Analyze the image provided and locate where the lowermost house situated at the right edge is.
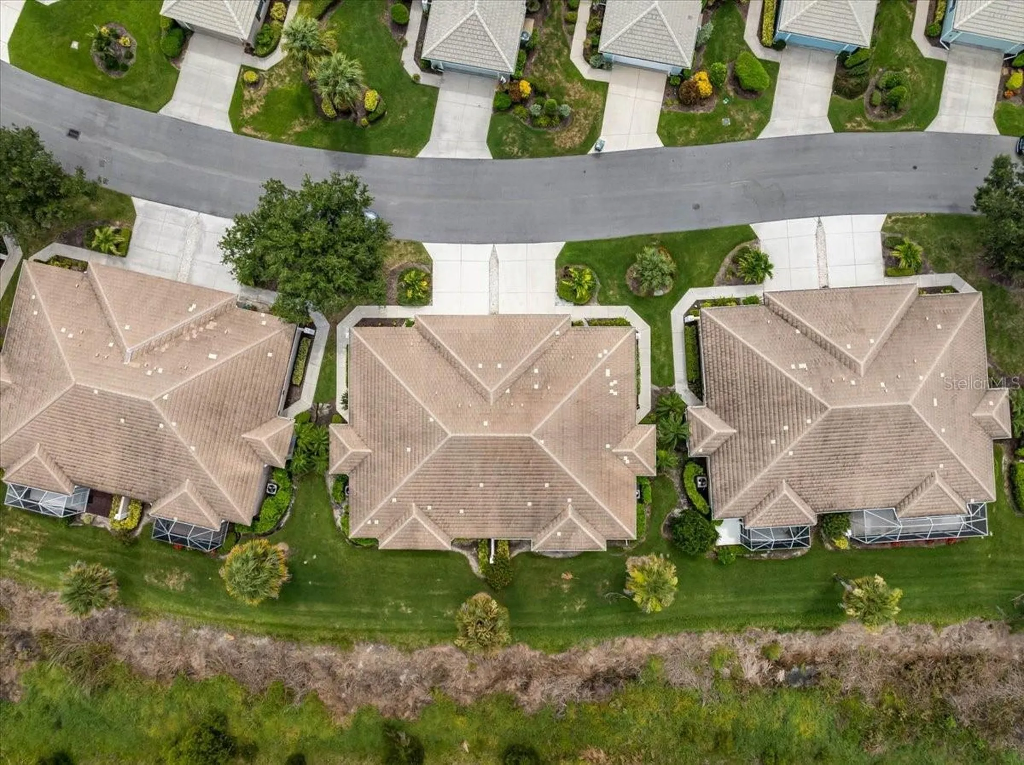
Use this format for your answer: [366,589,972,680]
[683,281,1015,530]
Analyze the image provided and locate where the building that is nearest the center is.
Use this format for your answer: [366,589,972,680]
[328,313,657,551]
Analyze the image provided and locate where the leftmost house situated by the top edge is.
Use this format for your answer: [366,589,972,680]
[157,0,269,48]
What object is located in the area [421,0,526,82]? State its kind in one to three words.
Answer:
house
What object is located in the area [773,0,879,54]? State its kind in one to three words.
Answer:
house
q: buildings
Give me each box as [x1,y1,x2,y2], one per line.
[421,0,526,82]
[598,0,705,80]
[157,0,269,48]
[0,255,302,533]
[937,0,1024,58]
[773,0,879,54]
[683,281,1015,530]
[328,313,657,551]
